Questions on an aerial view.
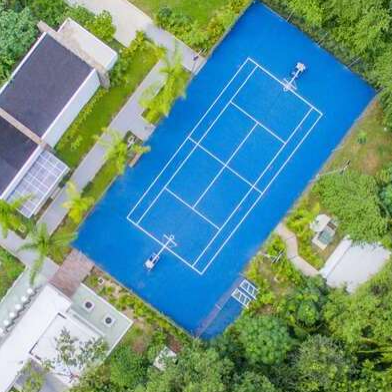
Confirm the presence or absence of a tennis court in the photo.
Yes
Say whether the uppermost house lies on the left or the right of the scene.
left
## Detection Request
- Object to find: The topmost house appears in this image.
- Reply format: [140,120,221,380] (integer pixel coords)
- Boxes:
[0,18,119,218]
